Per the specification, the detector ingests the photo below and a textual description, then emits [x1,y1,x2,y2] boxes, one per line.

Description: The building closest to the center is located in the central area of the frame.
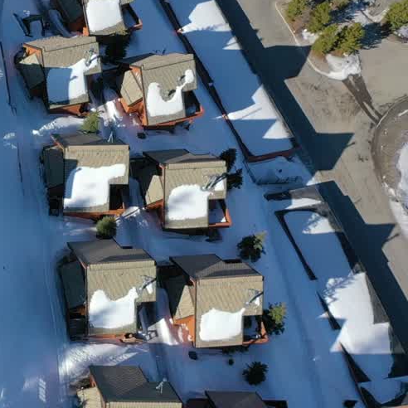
[123,147,236,243]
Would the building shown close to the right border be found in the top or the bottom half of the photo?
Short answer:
bottom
